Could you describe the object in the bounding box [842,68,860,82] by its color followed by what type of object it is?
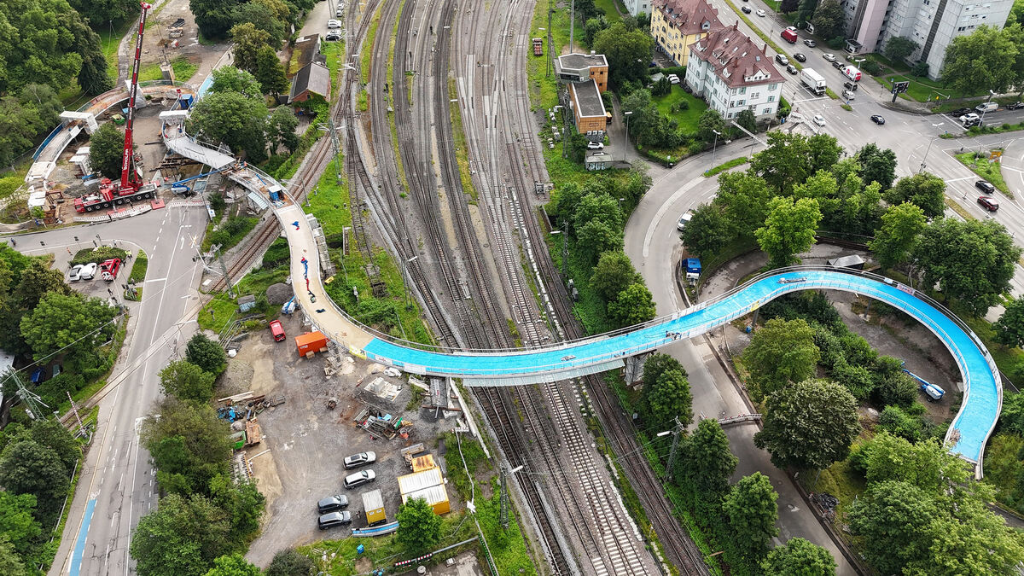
white vehicle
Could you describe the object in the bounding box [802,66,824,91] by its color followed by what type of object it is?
white truck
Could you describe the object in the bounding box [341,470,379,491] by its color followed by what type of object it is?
white car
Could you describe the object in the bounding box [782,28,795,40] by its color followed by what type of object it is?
red vehicle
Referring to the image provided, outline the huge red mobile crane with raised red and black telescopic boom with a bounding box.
[68,0,162,219]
